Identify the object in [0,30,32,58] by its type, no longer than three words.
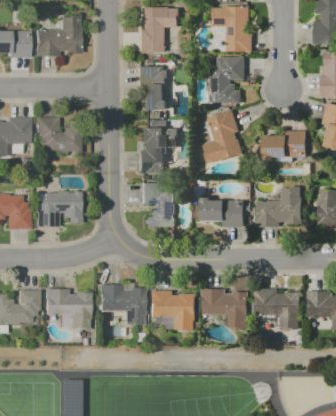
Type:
house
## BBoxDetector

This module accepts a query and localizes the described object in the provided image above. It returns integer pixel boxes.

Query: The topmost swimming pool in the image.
[196,28,210,49]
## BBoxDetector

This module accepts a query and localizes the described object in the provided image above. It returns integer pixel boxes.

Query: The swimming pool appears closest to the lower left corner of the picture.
[48,327,72,341]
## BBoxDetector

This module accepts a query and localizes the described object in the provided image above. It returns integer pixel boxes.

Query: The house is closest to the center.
[143,180,174,228]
